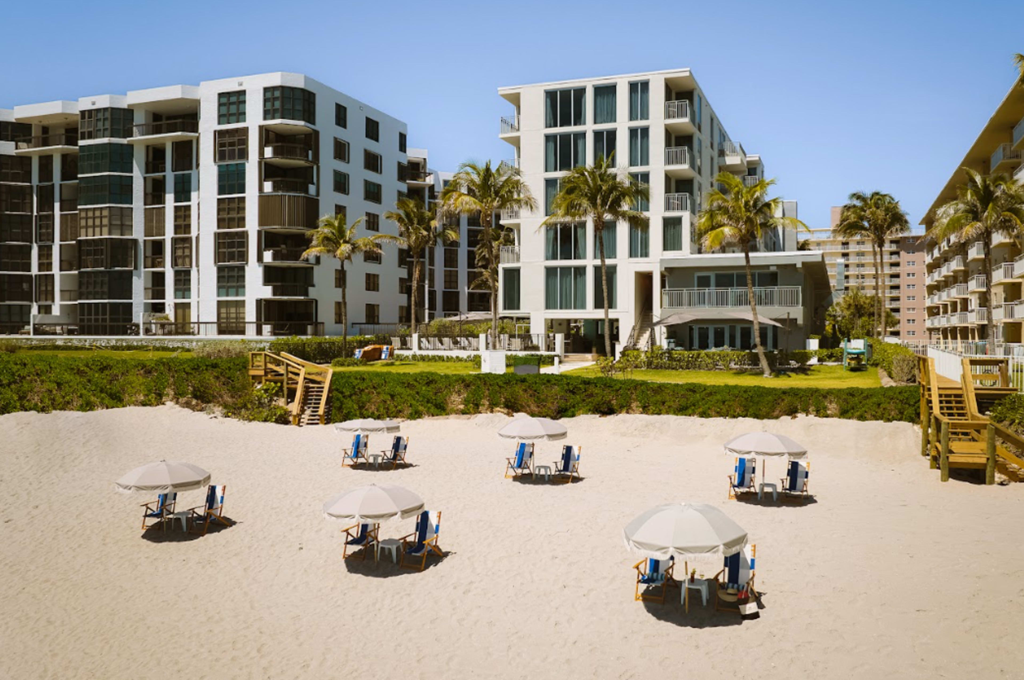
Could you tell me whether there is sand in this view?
Yes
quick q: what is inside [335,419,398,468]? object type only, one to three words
umbrella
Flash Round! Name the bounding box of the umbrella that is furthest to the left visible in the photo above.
[115,459,211,535]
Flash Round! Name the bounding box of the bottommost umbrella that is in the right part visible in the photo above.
[624,505,752,613]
